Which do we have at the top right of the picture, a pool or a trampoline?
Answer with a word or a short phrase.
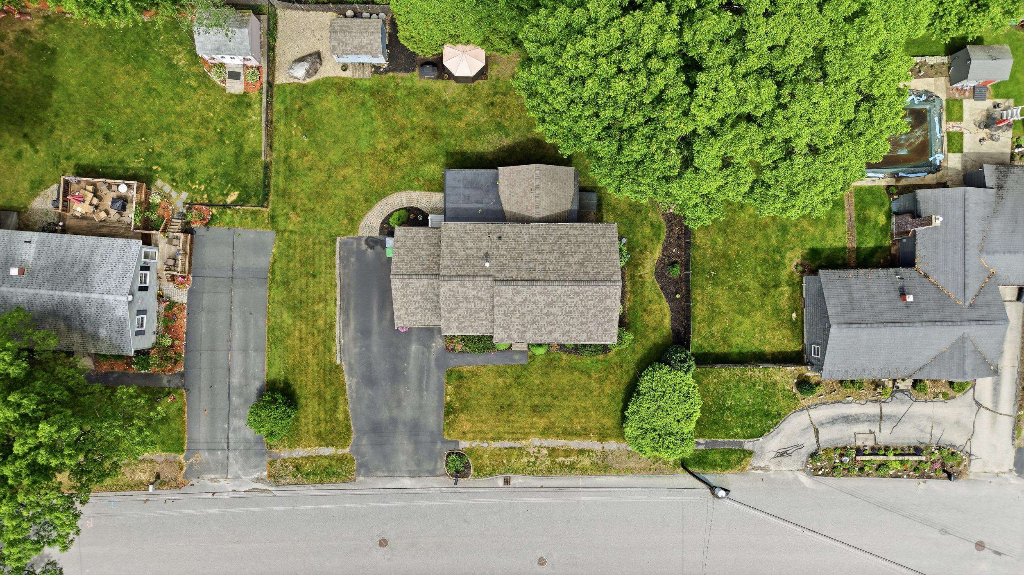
pool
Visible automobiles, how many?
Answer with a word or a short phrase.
0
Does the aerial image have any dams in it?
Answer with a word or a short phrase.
No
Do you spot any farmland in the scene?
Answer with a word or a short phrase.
No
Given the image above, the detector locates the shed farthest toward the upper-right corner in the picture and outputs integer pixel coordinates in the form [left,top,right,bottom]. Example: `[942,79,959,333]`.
[950,47,1013,87]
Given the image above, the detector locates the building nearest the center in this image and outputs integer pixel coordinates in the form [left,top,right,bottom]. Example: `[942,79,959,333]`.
[392,162,620,345]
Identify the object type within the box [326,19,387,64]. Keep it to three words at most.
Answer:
shed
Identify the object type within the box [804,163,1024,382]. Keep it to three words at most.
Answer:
house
